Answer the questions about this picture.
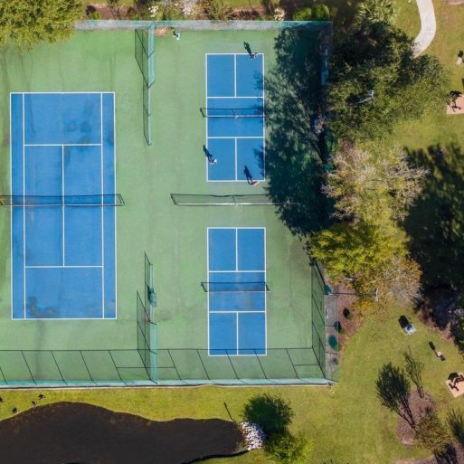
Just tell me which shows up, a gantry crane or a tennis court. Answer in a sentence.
There is a tennis court in the scene.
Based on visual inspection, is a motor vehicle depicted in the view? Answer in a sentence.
No, there's no motor vehicle here.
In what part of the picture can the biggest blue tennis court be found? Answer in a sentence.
The biggest blue tennis court is in the left part of the image.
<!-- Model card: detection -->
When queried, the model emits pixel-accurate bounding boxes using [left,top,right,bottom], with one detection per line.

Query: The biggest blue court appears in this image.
[10,92,117,319]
